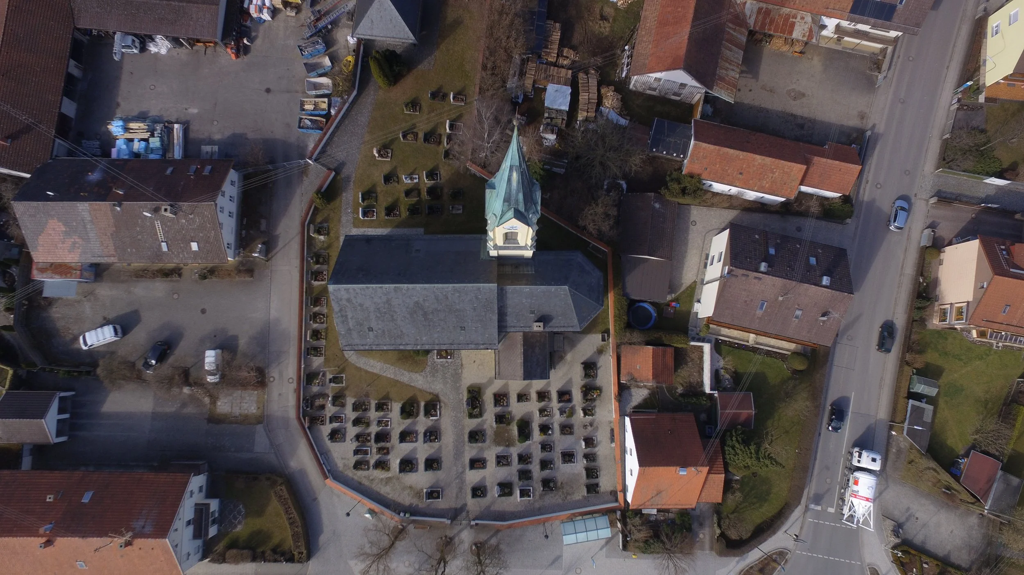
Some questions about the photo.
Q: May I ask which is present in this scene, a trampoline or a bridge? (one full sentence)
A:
Visible in the photo is a trampoline.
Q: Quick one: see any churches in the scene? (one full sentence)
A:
Yes, you can see a church in this photo.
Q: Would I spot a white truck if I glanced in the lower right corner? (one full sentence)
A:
Yes, the scene does show a white truck in the lower right corner.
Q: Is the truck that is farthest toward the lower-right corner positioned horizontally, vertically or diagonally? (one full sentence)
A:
Seen from above, the truck that is farthest toward the lower-right corner lies vertically.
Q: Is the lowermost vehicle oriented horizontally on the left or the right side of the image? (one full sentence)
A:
You can find the lowermost vehicle oriented horizontally on the left side of the picture.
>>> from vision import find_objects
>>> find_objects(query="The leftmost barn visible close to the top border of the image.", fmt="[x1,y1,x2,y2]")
[0,0,90,181]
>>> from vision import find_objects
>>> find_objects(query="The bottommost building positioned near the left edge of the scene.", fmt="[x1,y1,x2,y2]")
[0,465,241,575]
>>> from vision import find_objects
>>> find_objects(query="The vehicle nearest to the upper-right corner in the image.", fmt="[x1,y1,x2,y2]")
[888,199,909,231]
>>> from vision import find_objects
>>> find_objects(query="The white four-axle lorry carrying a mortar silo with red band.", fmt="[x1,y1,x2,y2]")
[839,448,880,538]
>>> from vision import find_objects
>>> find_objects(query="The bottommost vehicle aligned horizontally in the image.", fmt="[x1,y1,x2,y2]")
[81,326,124,350]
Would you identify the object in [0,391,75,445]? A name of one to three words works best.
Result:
building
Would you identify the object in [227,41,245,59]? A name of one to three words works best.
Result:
work vehicle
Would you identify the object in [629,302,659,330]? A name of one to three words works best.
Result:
trampoline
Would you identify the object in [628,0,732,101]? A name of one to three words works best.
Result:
barn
